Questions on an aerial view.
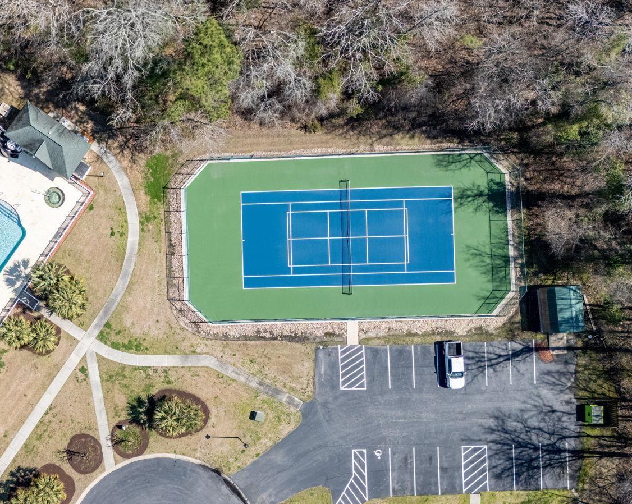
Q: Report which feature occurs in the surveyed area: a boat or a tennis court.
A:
tennis court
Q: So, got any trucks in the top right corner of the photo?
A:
No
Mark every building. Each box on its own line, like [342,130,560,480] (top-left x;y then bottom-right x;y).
[4,101,91,178]
[538,286,586,332]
